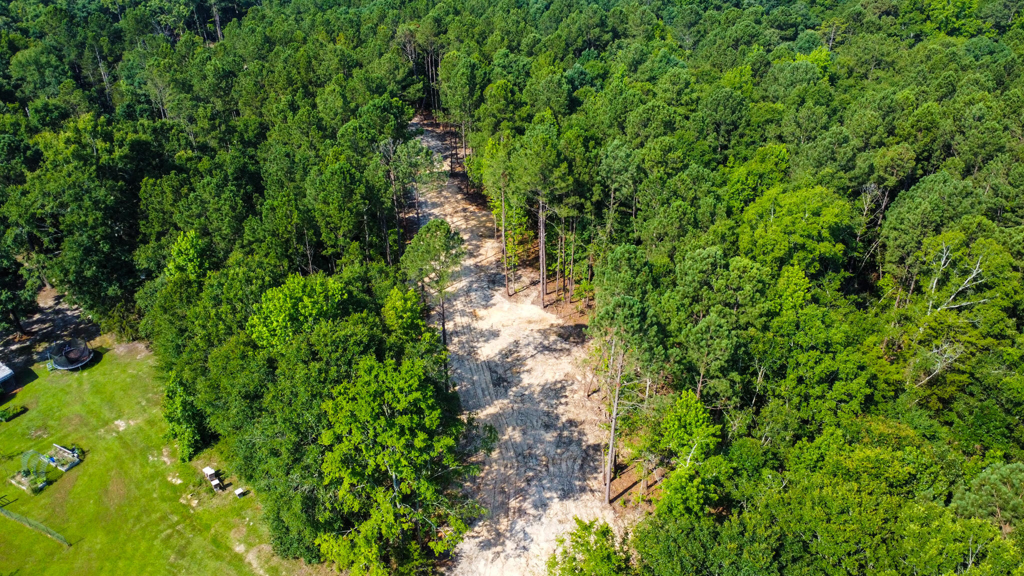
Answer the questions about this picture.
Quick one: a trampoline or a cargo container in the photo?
trampoline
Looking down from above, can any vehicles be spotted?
No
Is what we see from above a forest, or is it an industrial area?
forest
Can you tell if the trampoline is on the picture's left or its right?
left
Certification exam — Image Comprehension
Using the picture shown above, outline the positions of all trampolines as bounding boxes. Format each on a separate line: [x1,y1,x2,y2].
[38,330,95,377]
